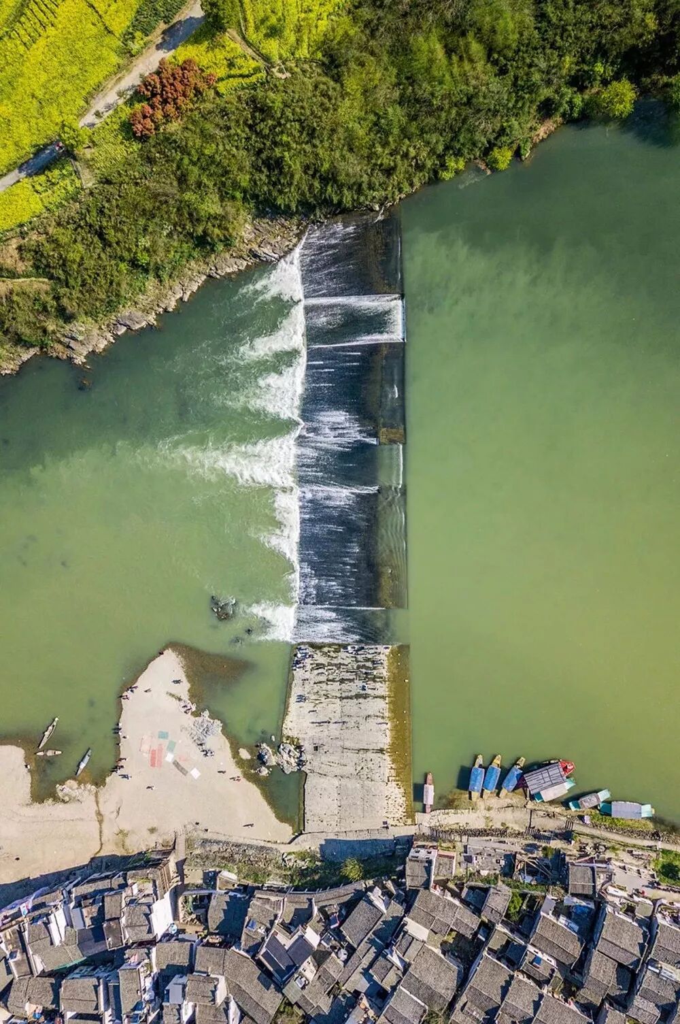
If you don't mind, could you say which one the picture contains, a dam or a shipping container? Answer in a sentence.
It is a dam that can be seen here.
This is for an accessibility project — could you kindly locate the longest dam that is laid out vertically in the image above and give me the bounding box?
[282,205,415,835]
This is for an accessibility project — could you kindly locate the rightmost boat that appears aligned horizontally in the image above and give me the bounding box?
[597,801,654,820]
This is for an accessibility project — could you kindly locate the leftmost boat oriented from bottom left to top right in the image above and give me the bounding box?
[38,717,58,749]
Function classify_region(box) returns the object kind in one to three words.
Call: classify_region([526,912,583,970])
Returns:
house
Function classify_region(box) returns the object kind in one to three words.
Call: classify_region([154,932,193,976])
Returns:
house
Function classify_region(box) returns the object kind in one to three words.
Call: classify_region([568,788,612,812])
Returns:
boat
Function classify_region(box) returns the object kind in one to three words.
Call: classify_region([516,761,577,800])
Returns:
boat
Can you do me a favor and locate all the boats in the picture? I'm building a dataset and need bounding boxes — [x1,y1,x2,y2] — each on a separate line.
[531,776,575,803]
[468,754,485,801]
[482,753,502,801]
[568,788,612,812]
[497,756,525,800]
[516,761,577,800]
[76,748,91,776]
[423,771,434,813]
[597,801,654,820]
[38,717,58,749]
[549,758,562,764]
[35,750,62,756]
